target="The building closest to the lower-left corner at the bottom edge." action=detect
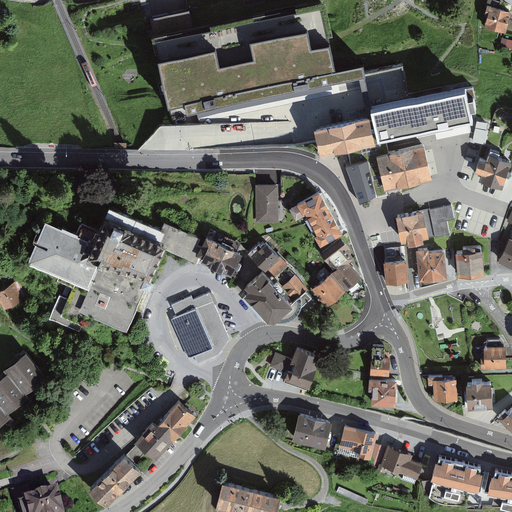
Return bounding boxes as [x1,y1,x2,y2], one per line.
[23,478,66,512]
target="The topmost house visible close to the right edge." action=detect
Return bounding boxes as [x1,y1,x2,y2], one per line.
[483,5,512,34]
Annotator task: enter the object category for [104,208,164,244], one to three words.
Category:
building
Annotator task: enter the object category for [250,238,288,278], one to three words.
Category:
house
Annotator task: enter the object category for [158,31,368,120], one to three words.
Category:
building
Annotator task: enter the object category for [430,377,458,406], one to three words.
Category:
house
